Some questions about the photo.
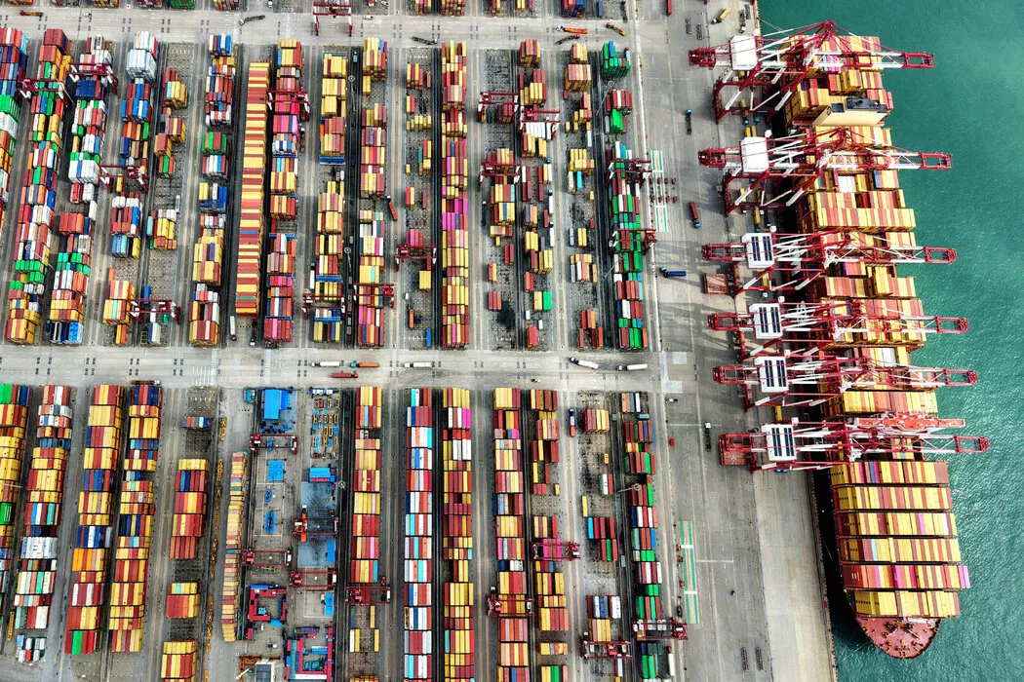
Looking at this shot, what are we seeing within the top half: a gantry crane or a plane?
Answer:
gantry crane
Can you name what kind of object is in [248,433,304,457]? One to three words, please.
container crane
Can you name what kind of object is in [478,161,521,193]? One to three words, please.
container crane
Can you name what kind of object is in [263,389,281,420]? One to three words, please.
shed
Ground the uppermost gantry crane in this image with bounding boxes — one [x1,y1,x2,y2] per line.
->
[313,1,353,37]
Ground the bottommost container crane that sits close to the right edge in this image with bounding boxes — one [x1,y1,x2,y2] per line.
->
[717,415,992,479]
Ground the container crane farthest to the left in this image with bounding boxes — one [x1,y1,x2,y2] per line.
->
[17,76,73,111]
